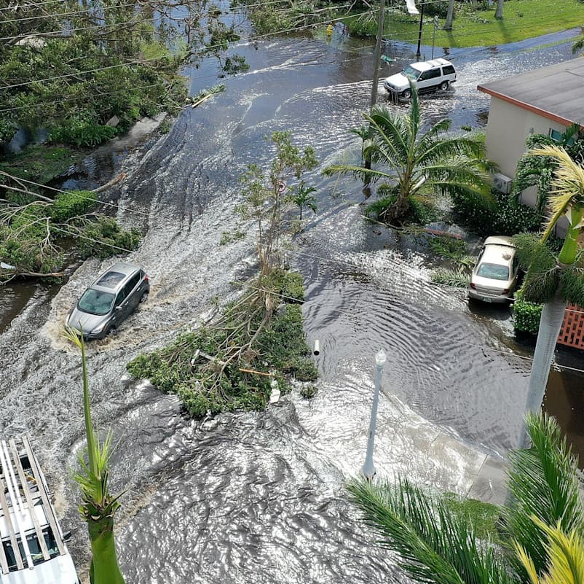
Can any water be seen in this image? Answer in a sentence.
Yes, some water is visible.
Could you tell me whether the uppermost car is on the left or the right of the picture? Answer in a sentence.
The uppermost car sits on the right side.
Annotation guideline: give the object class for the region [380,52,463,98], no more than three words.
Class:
car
